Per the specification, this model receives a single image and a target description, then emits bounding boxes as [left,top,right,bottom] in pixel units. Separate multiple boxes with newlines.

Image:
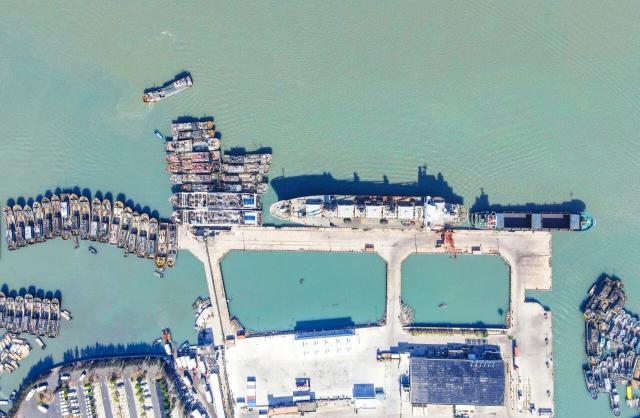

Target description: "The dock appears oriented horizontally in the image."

[178,227,551,289]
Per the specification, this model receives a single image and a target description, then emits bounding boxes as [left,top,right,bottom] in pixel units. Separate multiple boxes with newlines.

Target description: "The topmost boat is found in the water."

[142,78,194,100]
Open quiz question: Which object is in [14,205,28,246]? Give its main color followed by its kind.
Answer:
gray boat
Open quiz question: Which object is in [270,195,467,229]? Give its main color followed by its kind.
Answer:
white ship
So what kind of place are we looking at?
port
